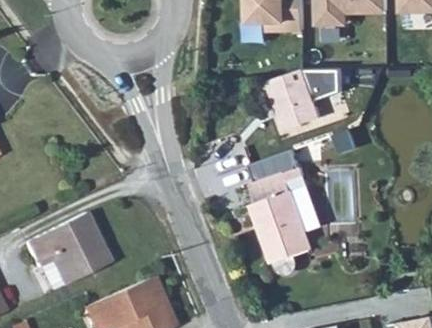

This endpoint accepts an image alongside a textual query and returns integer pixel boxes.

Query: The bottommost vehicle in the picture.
[222,172,249,188]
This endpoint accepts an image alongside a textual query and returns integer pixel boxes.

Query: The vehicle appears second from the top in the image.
[214,138,236,158]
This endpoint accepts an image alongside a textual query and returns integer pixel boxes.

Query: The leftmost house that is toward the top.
[238,0,304,44]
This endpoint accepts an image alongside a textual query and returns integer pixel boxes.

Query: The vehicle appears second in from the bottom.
[218,158,248,172]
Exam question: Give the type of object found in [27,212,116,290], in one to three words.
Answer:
house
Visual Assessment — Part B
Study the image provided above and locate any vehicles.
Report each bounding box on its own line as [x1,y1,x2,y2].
[222,172,249,188]
[218,158,248,172]
[214,138,236,158]
[114,71,130,92]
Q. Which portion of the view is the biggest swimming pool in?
right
